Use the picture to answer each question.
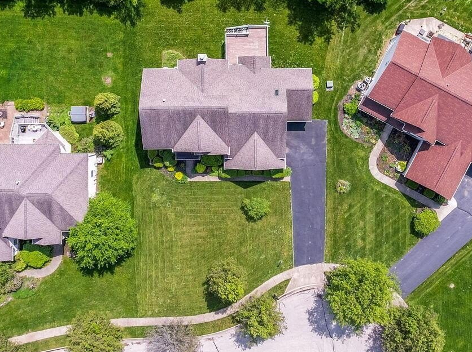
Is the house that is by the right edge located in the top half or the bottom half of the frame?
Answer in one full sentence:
The house that is by the right edge sits in the top half of the picture.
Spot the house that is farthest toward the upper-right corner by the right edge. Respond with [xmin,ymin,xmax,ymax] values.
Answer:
[358,30,472,200]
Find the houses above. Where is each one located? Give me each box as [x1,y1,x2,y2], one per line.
[0,129,94,264]
[358,30,472,200]
[139,54,314,171]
